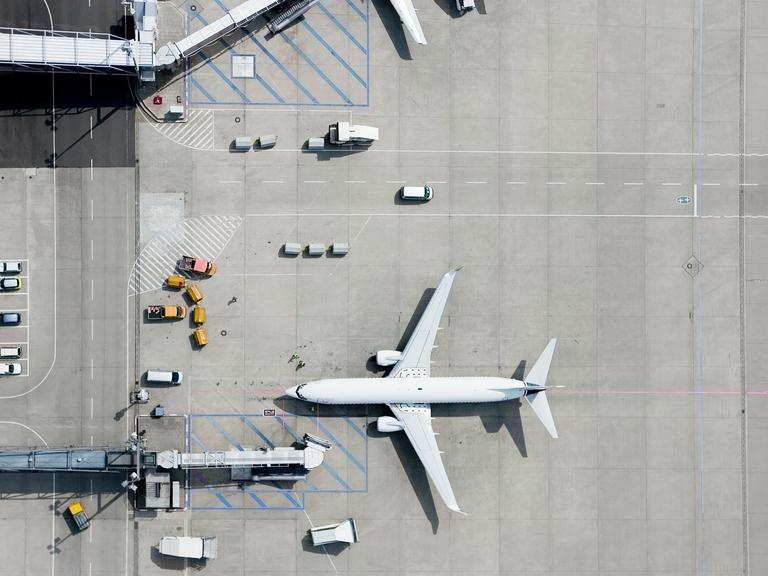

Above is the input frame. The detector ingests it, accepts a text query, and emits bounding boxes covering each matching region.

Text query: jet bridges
[158,434,332,488]
[155,0,316,75]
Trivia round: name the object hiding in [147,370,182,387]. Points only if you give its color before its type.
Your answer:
white vehicle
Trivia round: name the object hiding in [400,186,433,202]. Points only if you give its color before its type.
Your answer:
white vehicle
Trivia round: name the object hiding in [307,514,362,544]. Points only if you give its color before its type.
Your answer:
white truck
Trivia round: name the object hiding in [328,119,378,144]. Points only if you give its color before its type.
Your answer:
white truck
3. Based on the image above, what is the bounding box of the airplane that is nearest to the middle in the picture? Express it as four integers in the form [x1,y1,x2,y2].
[286,265,566,514]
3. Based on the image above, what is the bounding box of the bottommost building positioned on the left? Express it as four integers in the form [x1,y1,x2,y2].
[146,473,171,508]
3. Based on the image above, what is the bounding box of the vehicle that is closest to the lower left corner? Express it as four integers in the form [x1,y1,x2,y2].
[66,502,92,534]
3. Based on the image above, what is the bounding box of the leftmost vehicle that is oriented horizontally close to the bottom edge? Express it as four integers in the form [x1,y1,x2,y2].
[160,536,219,564]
